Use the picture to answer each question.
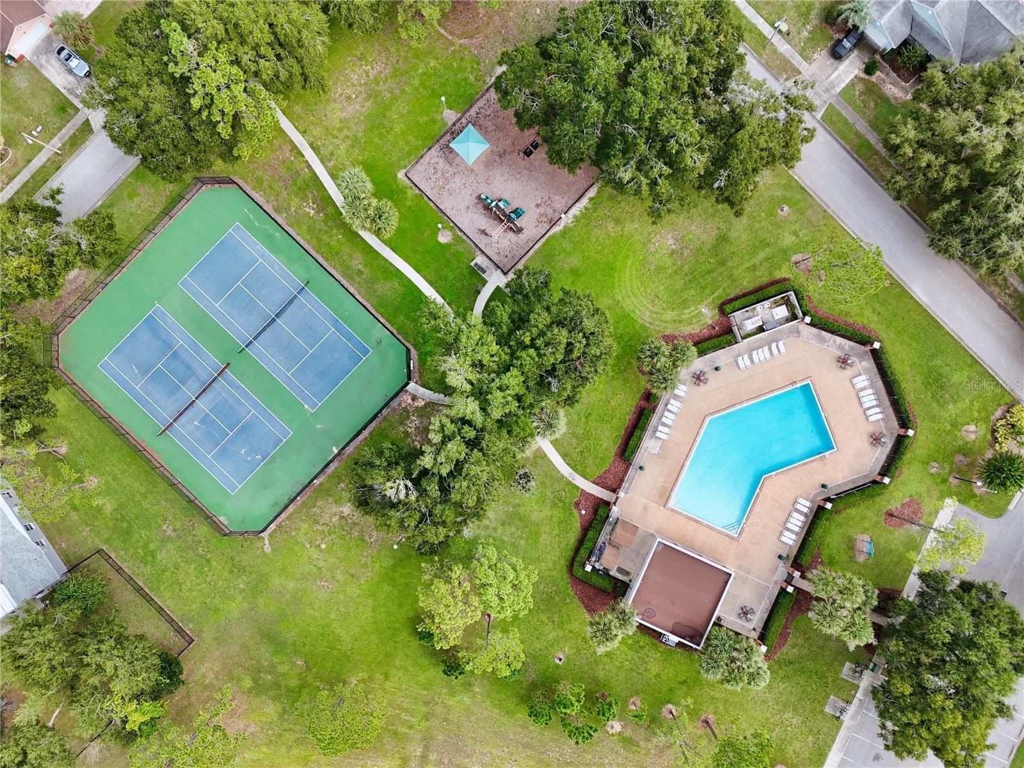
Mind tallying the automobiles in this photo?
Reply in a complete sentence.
In total, there are 2 automobiles in the scene.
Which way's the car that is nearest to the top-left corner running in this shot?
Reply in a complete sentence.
The car that is nearest to the top-left corner is oriented at an angle.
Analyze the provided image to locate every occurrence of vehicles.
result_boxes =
[55,44,93,79]
[830,27,866,63]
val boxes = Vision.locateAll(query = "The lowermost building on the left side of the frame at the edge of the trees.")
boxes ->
[0,473,67,625]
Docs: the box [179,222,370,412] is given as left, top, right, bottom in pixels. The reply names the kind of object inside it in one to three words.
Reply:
tennis court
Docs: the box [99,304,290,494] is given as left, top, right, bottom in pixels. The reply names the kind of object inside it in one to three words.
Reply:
tennis court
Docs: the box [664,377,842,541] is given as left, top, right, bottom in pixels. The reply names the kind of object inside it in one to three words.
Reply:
swimming pool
